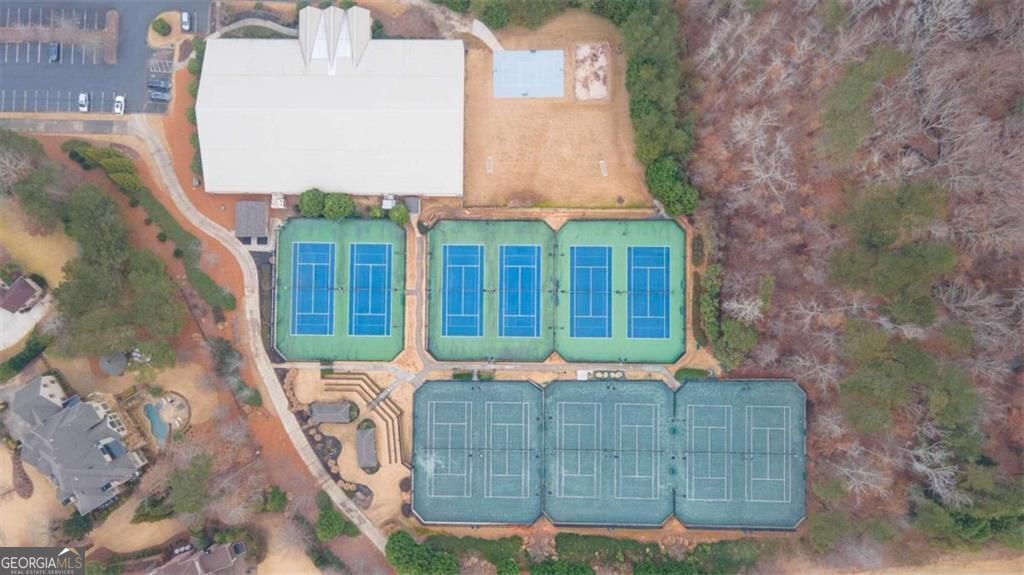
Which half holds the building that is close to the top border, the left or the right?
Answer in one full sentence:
It is on the left.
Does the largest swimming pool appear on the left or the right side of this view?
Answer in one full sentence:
You can find the largest swimming pool on the left side of the picture.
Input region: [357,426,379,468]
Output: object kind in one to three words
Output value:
building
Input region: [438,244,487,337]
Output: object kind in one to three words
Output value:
tennis court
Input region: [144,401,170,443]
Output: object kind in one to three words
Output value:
swimming pool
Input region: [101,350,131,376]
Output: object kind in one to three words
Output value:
gazebo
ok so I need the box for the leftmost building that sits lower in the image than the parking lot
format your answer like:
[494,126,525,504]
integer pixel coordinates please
[0,274,51,318]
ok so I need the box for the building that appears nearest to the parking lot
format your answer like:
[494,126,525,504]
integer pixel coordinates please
[195,5,463,197]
